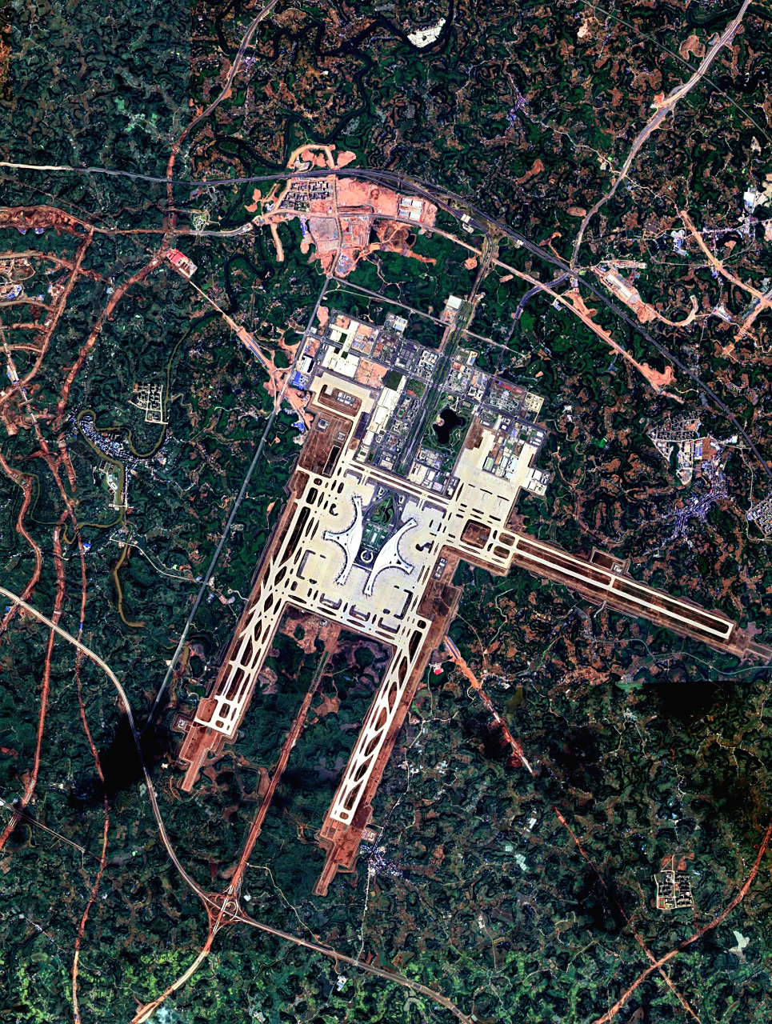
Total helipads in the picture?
0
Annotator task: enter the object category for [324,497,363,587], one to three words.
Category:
building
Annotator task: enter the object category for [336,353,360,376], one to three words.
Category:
building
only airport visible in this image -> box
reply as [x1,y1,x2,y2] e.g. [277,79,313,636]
[171,373,772,895]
